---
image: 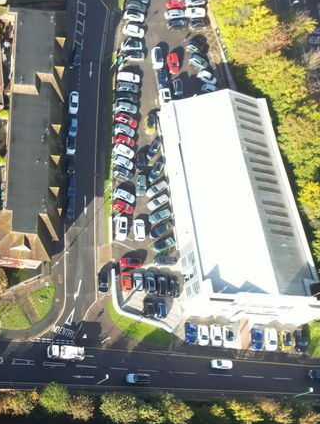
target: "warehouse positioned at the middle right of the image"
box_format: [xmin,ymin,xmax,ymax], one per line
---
[159,89,320,326]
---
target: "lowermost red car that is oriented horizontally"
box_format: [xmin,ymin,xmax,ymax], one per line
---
[119,256,143,268]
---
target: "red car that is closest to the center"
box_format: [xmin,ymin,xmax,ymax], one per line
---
[110,199,134,216]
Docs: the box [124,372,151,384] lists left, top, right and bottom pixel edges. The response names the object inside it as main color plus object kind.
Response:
blue vehicle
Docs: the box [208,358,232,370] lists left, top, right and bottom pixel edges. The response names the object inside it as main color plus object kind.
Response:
white vehicle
